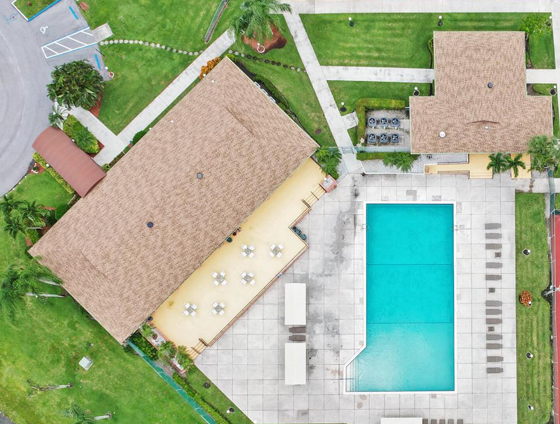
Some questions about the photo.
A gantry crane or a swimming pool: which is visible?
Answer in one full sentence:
There is a swimming pool in the scene.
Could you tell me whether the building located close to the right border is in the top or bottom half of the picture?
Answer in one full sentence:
Seen from above, the building located close to the right border lies in the top half of the view.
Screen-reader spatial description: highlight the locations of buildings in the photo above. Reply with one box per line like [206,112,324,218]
[31,57,319,344]
[410,31,553,154]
